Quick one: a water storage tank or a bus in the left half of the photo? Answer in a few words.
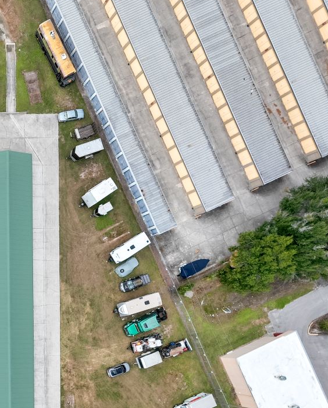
bus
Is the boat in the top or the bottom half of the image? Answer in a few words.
bottom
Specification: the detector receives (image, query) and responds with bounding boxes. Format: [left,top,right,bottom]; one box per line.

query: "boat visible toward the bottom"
[174,259,210,282]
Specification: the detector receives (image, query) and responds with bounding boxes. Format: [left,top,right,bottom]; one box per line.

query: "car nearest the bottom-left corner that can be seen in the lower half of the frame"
[106,361,131,377]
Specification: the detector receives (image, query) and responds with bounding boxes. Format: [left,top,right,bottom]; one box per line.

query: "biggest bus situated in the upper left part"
[37,20,73,92]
